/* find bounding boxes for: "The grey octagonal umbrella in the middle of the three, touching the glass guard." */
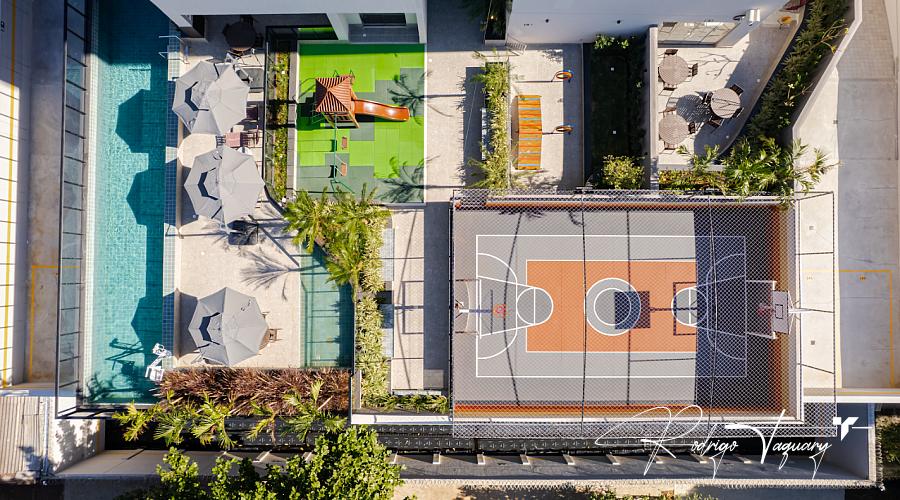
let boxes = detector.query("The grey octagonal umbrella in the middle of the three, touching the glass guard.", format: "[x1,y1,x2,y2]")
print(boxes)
[184,146,265,228]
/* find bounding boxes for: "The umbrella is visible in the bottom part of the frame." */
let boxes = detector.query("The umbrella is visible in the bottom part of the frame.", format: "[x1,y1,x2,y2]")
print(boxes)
[187,286,271,368]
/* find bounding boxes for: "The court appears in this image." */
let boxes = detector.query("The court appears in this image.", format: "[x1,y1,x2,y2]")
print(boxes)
[454,208,769,404]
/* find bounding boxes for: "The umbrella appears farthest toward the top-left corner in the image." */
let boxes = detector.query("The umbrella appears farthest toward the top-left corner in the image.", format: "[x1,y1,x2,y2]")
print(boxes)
[173,59,252,134]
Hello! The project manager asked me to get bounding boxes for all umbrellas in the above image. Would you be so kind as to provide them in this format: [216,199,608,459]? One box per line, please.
[187,286,271,368]
[184,146,265,228]
[173,59,252,134]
